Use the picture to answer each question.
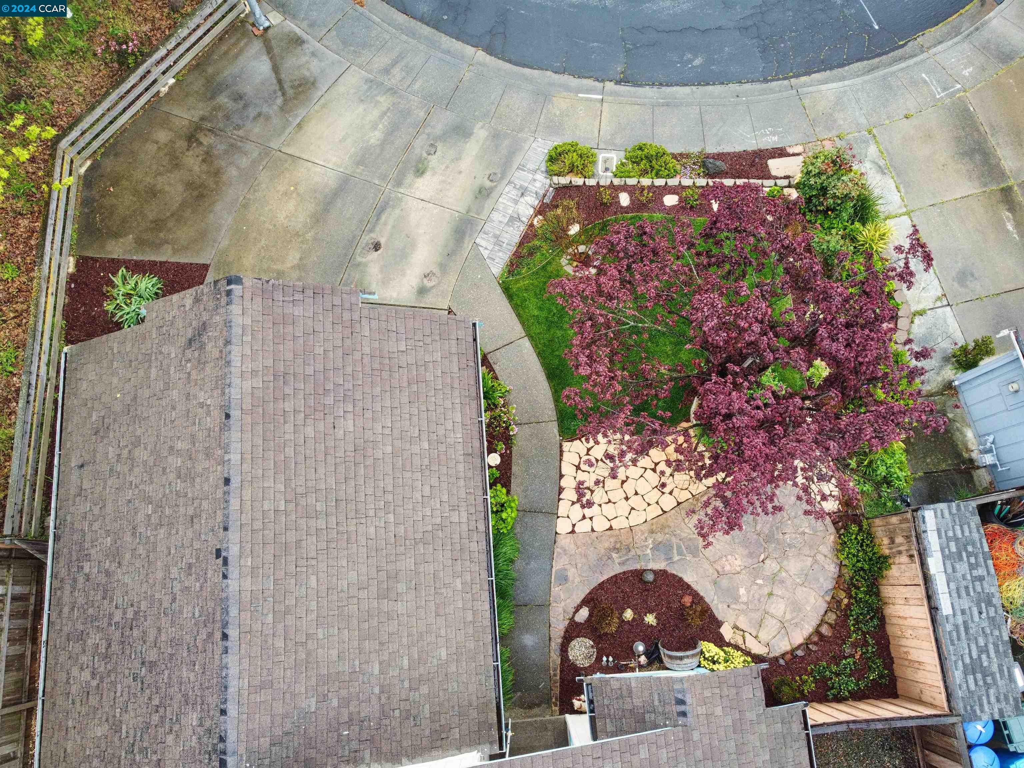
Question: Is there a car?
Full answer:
No, there is no car in the image.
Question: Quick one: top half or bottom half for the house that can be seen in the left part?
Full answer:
The house that can be seen in the left part sits in the bottom half of the picture.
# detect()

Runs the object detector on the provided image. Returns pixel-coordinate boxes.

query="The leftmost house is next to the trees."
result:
[28,273,509,768]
